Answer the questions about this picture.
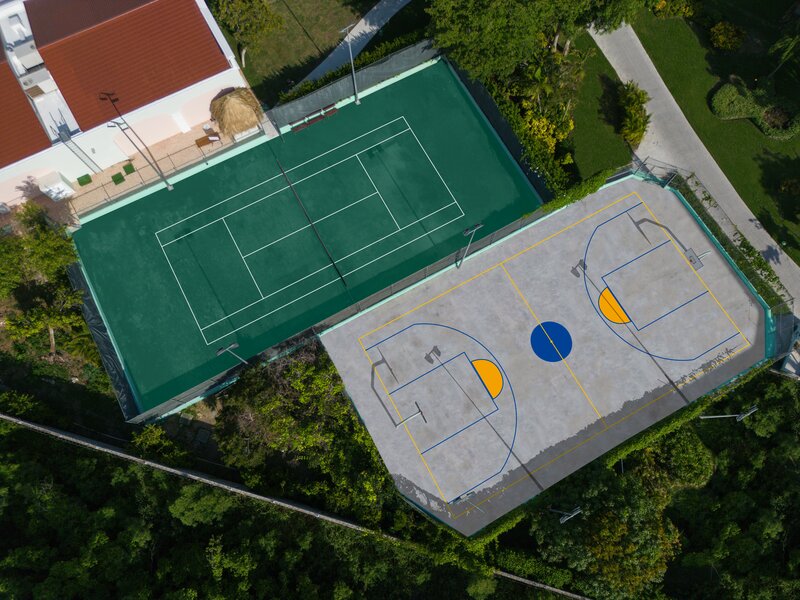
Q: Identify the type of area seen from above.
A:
sports ground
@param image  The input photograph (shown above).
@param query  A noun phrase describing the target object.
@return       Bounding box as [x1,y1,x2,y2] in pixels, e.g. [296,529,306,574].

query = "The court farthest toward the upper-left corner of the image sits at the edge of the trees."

[70,59,550,420]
